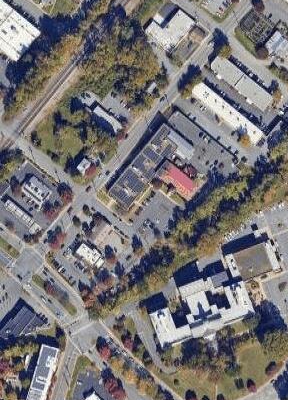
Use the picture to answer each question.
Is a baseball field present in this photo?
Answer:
No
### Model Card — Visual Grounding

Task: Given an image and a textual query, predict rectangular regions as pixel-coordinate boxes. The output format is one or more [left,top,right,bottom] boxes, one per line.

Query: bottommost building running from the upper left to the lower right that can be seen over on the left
[76,244,104,269]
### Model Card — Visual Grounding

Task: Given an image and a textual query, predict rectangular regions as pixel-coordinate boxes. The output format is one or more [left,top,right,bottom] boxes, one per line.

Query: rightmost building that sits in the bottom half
[226,241,281,282]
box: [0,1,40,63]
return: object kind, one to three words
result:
building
